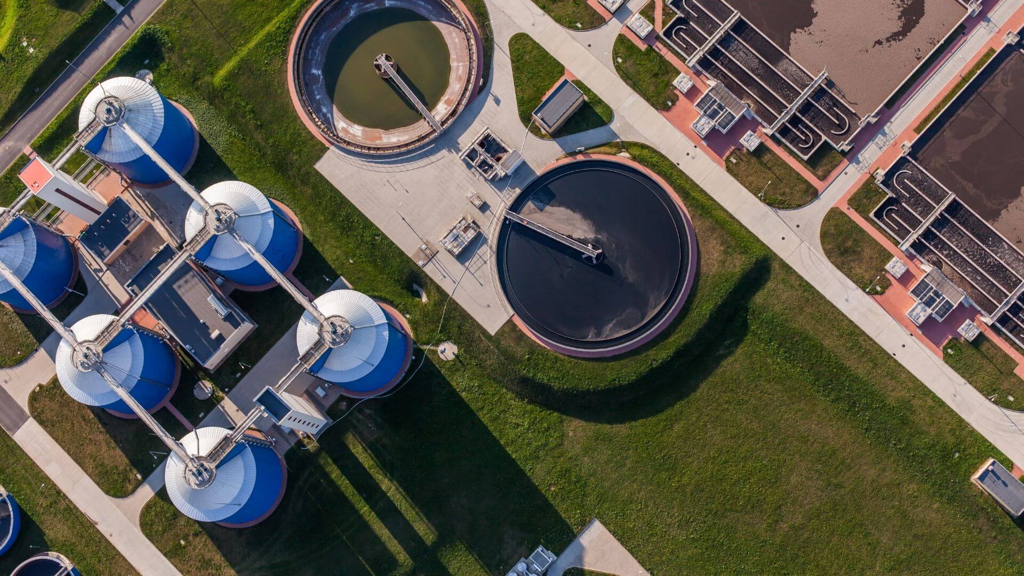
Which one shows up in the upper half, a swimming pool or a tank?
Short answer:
tank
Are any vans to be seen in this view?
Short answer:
No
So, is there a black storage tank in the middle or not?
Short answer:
Yes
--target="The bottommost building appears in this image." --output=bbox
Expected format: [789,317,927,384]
[971,458,1024,517]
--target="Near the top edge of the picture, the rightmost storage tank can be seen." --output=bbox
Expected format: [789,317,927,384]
[288,0,487,164]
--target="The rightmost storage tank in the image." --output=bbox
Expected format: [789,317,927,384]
[487,153,700,361]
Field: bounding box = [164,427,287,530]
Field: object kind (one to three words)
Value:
storage tank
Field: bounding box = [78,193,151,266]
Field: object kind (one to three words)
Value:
building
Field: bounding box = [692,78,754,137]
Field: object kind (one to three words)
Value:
house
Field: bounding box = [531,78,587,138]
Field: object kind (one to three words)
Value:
building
